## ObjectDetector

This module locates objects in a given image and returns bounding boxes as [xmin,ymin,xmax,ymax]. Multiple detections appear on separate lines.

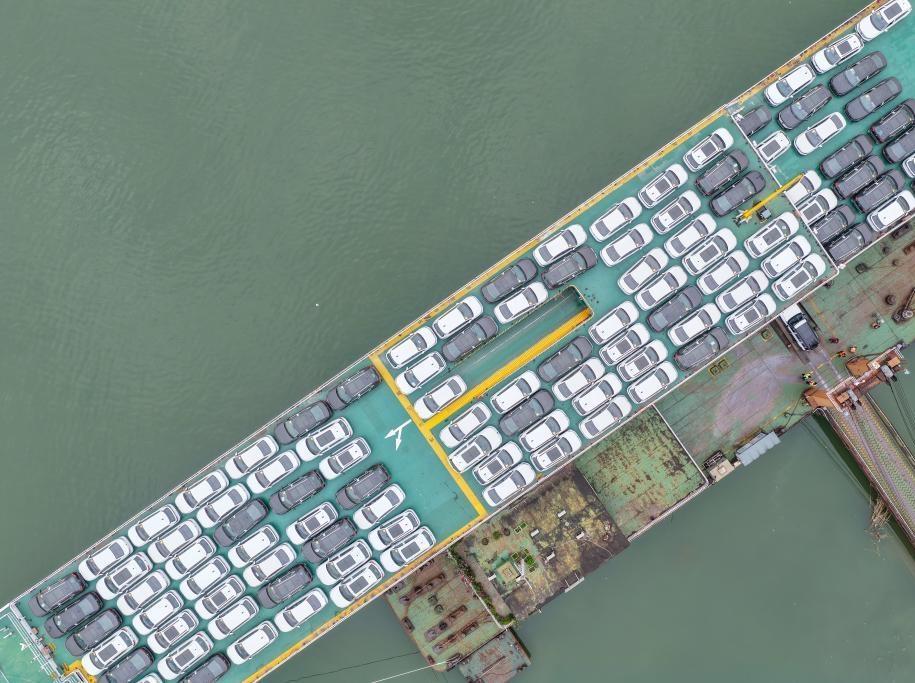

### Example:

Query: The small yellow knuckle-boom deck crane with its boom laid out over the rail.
[729,176,804,229]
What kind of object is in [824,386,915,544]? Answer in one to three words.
bridge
